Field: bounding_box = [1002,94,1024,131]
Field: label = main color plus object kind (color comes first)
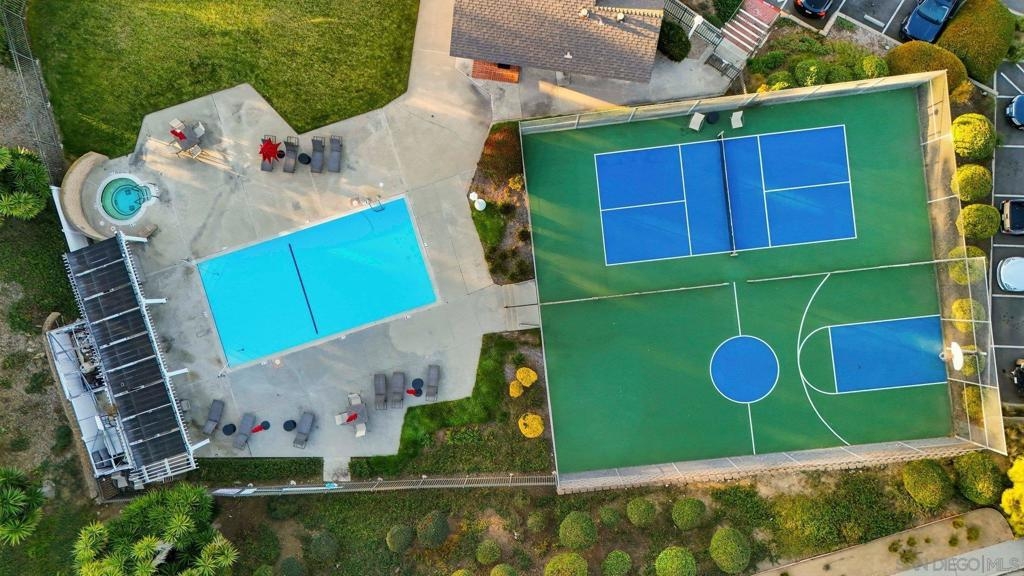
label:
blue car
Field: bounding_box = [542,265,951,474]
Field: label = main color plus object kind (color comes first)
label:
green basketball court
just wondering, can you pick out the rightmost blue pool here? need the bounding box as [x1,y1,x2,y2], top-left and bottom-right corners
[183,182,442,377]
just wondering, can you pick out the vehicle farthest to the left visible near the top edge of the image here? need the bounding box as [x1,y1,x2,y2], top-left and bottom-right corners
[792,0,833,22]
